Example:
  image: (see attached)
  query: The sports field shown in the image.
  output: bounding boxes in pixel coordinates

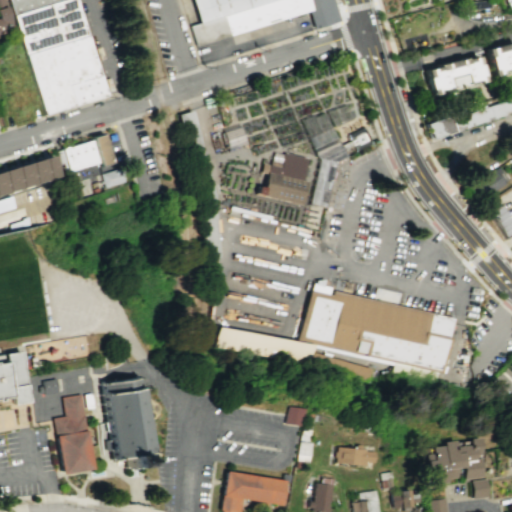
[0,233,49,341]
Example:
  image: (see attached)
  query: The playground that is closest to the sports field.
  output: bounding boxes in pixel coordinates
[26,336,88,362]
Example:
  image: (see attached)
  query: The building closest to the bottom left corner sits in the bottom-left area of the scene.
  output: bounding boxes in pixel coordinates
[58,431,97,474]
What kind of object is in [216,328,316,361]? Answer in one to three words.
shed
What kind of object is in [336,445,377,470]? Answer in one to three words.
house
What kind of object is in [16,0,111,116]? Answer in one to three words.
building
